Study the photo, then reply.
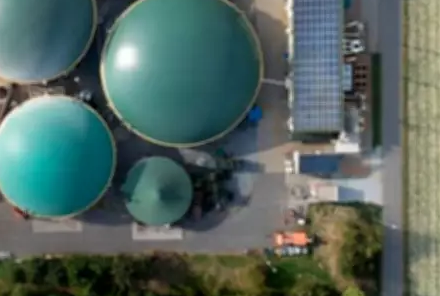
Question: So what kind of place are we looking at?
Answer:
industrial area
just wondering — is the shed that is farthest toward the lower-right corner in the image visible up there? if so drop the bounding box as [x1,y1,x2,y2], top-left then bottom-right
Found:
[315,184,338,201]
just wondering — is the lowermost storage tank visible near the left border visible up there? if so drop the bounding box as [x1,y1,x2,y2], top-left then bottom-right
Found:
[0,94,116,220]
